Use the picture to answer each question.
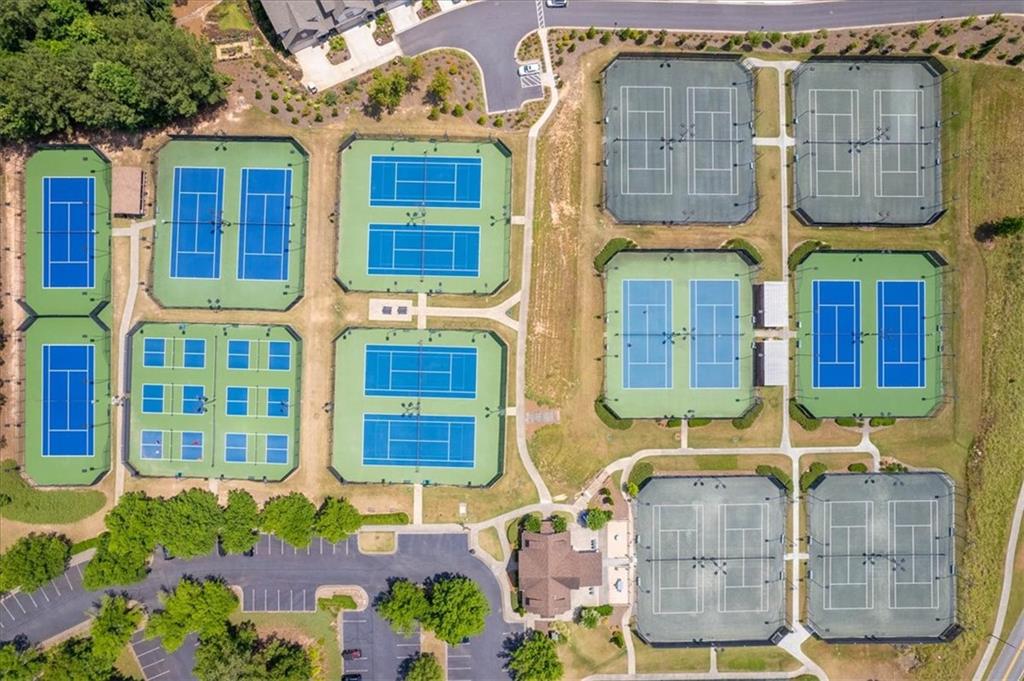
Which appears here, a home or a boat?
home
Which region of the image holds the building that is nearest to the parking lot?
bottom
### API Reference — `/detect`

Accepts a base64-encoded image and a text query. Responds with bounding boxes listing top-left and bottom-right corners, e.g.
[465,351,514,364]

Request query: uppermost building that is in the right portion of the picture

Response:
[753,281,789,327]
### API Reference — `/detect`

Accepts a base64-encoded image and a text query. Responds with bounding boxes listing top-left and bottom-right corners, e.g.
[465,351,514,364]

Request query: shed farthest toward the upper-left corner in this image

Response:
[111,166,147,215]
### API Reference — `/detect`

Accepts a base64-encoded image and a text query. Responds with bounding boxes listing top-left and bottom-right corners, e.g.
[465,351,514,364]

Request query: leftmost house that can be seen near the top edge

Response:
[262,0,339,51]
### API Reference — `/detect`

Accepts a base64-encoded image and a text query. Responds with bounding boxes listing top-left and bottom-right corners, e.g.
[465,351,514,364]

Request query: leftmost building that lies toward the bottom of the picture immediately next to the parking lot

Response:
[518,525,604,625]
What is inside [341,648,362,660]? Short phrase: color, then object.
black vehicle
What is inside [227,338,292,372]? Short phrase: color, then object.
blue sports court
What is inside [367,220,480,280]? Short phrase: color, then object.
blue tennis court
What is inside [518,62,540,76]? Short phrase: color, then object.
white car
